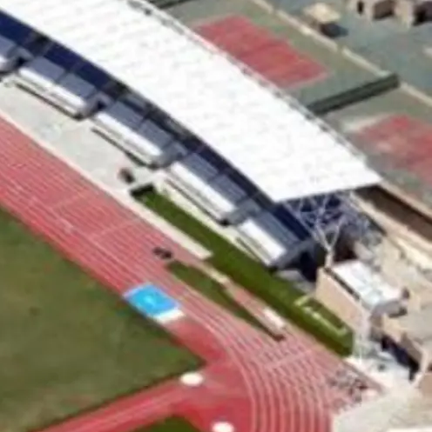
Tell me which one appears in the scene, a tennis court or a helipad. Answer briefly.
tennis court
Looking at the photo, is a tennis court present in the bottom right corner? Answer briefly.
No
